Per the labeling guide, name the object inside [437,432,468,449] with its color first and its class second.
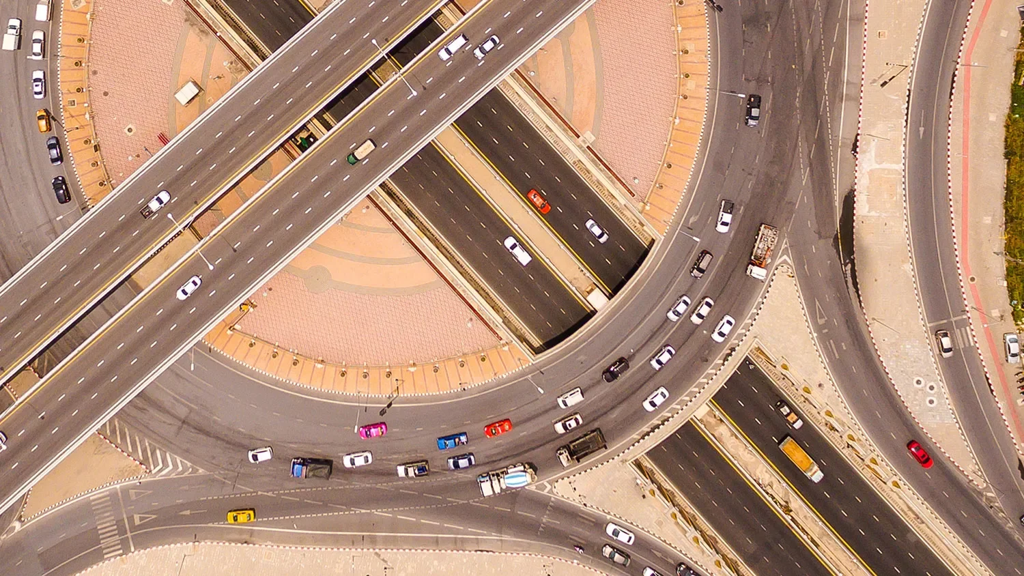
blue vehicle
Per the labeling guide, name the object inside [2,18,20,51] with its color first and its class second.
white vehicle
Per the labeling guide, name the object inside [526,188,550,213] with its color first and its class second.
red car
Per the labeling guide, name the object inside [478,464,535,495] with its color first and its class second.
white truck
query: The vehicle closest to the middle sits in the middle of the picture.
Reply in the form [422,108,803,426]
[504,236,531,265]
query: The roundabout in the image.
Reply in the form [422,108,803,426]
[57,0,711,397]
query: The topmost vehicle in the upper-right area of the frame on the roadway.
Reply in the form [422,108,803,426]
[745,94,760,126]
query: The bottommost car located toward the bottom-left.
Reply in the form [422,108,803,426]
[227,508,255,523]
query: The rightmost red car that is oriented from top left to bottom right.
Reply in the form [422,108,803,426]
[907,440,931,467]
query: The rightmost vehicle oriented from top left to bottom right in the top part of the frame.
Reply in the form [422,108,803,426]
[584,218,607,242]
